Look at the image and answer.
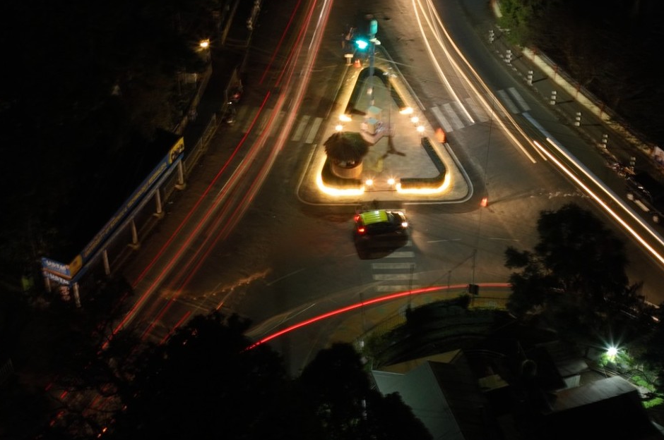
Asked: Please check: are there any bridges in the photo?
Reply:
No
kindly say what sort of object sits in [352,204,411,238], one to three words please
car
